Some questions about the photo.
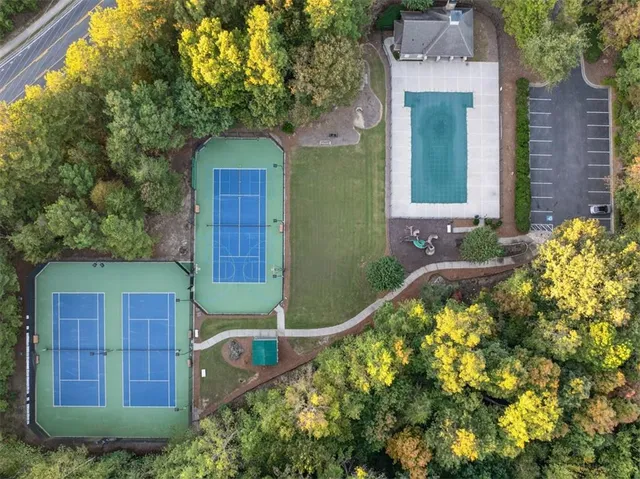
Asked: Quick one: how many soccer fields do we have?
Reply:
0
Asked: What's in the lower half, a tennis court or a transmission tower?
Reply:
tennis court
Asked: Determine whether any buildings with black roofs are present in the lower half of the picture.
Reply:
No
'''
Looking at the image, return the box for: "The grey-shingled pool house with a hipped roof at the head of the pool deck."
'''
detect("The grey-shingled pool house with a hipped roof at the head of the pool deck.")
[394,0,473,63]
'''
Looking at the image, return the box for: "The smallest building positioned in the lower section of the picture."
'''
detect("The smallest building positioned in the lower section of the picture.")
[251,335,279,365]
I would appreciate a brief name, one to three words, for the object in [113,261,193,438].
tennis court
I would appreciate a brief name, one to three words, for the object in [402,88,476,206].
swimming pool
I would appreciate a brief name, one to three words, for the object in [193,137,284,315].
tennis court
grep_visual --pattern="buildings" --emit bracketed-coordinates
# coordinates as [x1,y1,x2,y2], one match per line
[394,0,473,63]
[251,335,279,365]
